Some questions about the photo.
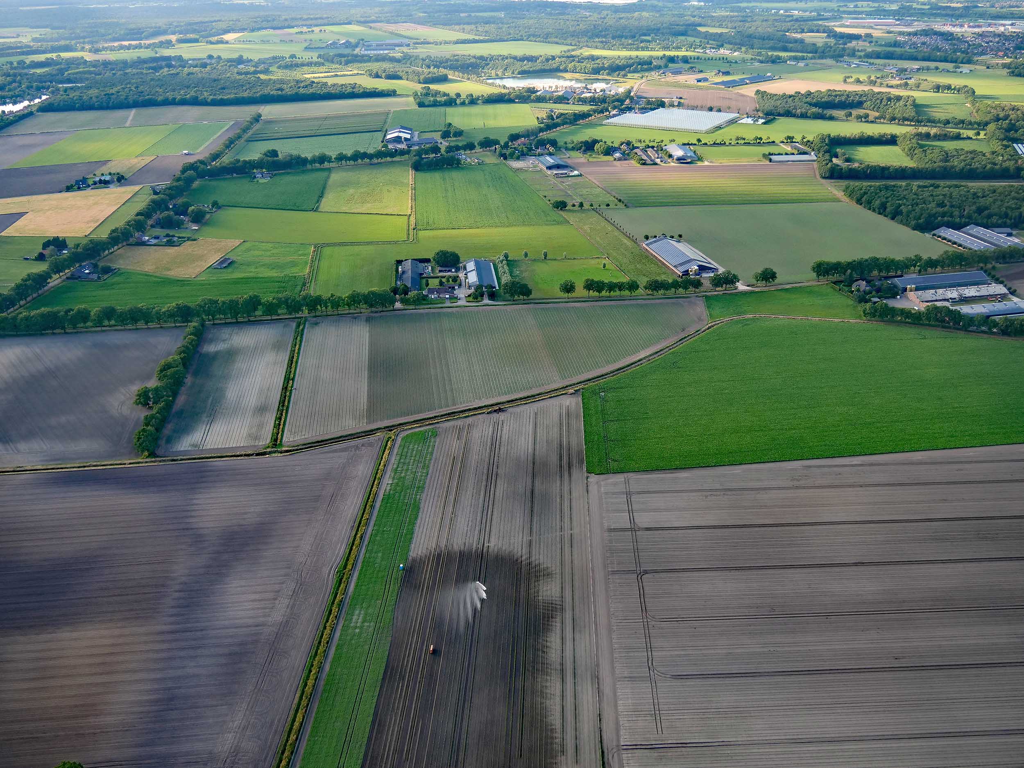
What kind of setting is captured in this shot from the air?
farmland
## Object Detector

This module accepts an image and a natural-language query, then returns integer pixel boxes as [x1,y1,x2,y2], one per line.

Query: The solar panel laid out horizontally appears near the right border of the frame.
[899,271,989,286]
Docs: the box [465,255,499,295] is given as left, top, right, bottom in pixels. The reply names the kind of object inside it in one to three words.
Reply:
barn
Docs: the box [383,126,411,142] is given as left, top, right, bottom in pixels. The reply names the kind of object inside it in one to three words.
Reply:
barn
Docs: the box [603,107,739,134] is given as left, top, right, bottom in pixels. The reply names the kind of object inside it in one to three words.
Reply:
greenhouse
